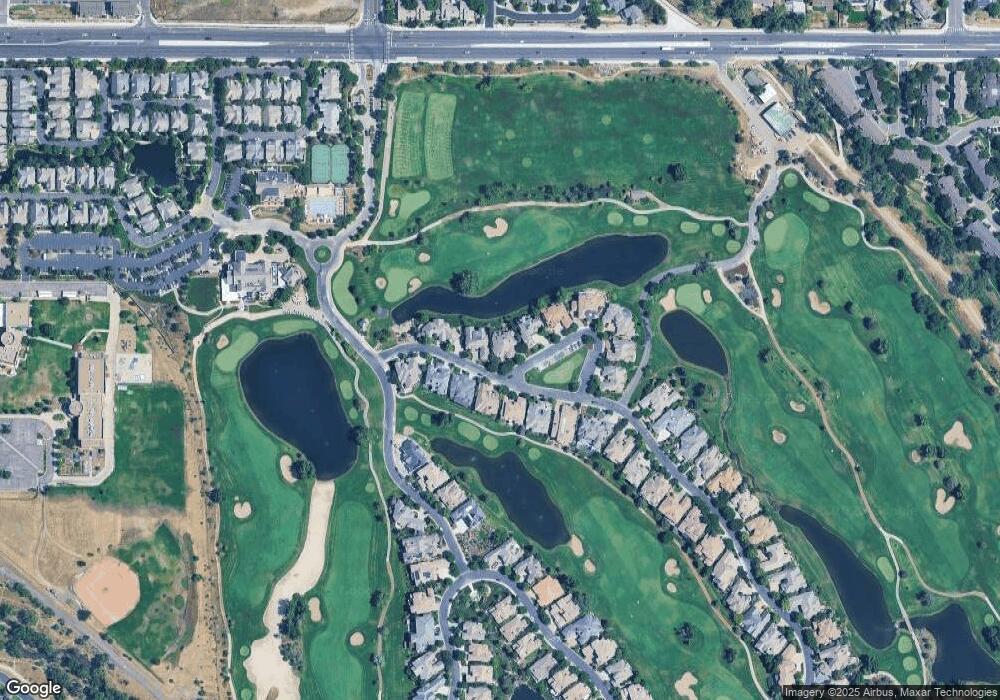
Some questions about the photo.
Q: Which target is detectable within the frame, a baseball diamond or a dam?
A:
baseball diamond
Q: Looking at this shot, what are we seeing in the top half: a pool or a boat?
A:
pool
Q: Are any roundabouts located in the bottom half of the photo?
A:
No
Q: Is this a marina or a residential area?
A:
residential area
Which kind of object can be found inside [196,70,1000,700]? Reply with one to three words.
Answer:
golf course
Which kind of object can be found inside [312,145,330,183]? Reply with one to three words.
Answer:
tennis court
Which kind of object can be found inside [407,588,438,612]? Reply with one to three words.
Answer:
house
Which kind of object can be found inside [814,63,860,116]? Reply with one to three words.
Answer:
building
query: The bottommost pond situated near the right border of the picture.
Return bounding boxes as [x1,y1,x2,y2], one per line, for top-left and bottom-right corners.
[909,603,1000,685]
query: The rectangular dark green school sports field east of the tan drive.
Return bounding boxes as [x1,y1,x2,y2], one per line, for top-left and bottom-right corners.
[52,384,185,512]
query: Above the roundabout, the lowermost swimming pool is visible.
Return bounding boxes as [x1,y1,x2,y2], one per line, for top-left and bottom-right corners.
[306,185,344,223]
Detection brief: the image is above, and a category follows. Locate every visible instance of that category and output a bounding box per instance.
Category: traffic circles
[304,235,342,273]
